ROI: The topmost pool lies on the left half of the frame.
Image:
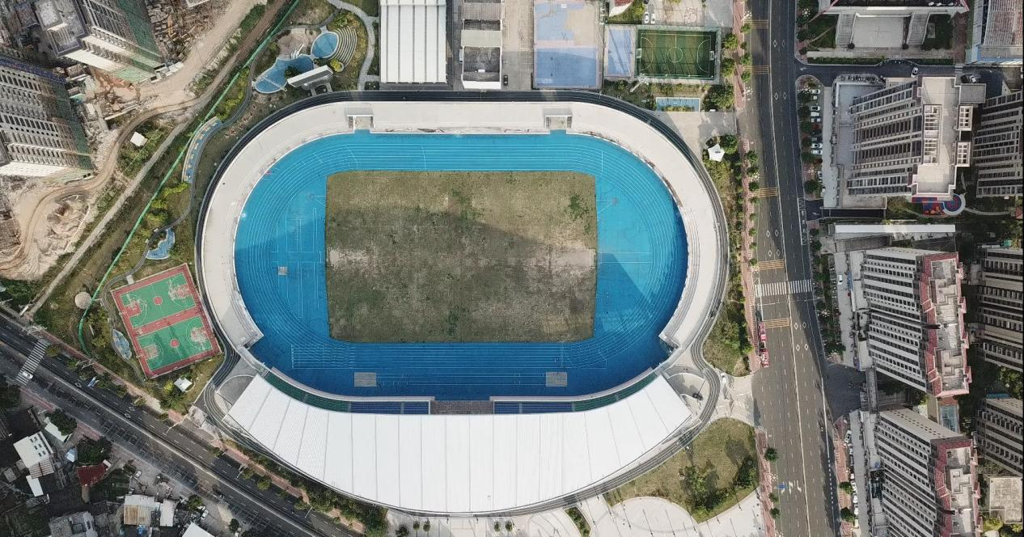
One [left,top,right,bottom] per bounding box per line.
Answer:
[310,31,340,58]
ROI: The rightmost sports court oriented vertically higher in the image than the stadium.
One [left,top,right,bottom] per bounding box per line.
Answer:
[604,23,633,89]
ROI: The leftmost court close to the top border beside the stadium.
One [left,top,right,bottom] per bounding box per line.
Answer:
[533,0,602,89]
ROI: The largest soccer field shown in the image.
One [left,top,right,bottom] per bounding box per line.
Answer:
[325,170,596,343]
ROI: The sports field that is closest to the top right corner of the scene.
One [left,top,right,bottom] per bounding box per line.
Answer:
[633,25,720,84]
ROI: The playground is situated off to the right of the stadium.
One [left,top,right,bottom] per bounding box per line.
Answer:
[912,193,967,216]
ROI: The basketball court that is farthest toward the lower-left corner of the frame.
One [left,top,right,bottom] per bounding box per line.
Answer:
[112,264,221,379]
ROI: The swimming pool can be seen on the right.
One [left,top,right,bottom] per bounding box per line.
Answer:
[656,96,702,112]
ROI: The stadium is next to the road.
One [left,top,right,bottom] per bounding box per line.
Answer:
[203,102,716,516]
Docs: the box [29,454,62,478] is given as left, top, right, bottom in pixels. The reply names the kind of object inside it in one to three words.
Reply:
house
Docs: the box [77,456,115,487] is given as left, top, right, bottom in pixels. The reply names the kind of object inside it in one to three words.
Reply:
house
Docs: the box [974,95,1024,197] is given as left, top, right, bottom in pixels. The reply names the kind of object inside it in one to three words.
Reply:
building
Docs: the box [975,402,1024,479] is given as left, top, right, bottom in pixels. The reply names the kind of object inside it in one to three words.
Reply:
building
